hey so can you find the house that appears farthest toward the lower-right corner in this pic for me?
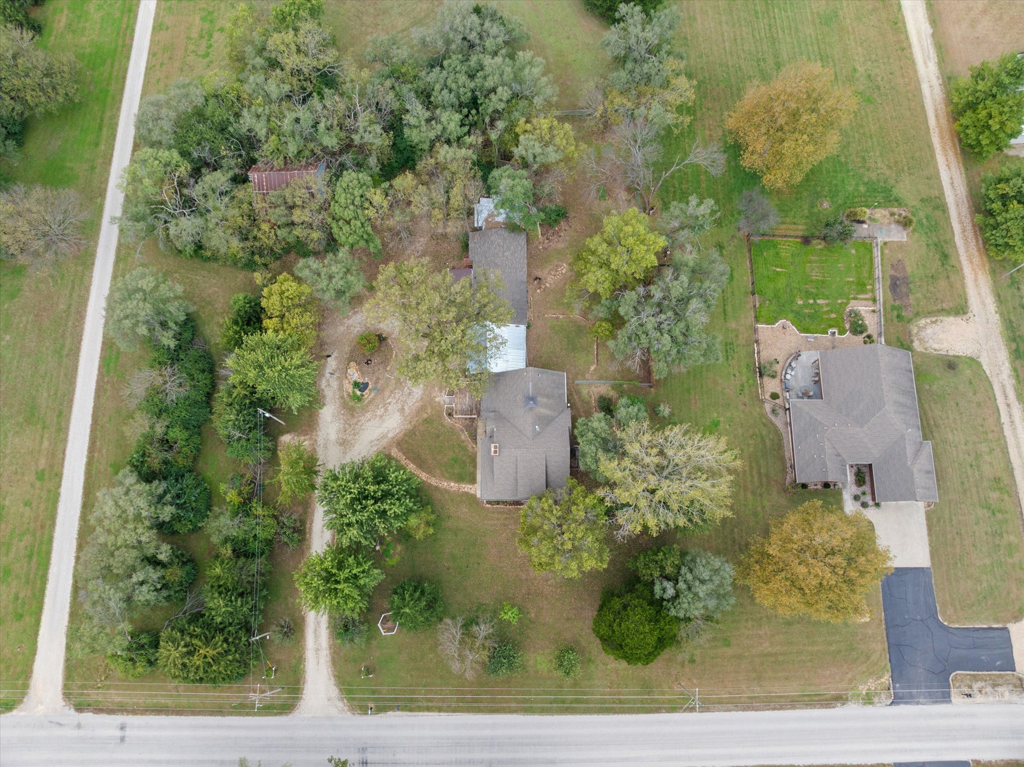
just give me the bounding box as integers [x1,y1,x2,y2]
[785,343,939,503]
